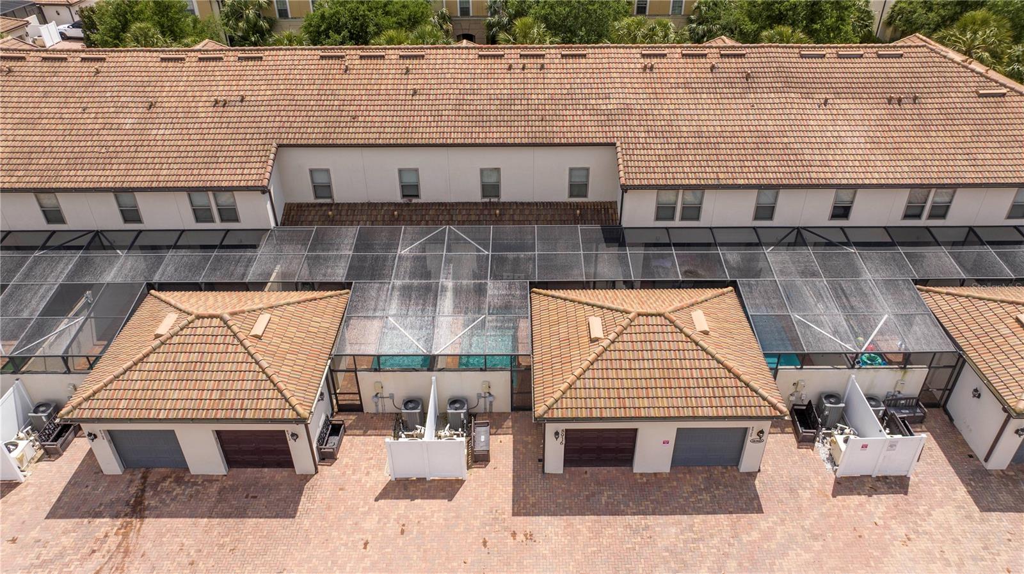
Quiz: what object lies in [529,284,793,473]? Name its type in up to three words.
building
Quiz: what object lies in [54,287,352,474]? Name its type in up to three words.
building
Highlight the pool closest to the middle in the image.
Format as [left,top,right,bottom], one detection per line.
[452,317,522,394]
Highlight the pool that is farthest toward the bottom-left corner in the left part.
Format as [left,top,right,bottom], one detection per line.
[365,320,435,371]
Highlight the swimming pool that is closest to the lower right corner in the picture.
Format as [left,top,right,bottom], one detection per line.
[765,354,810,376]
